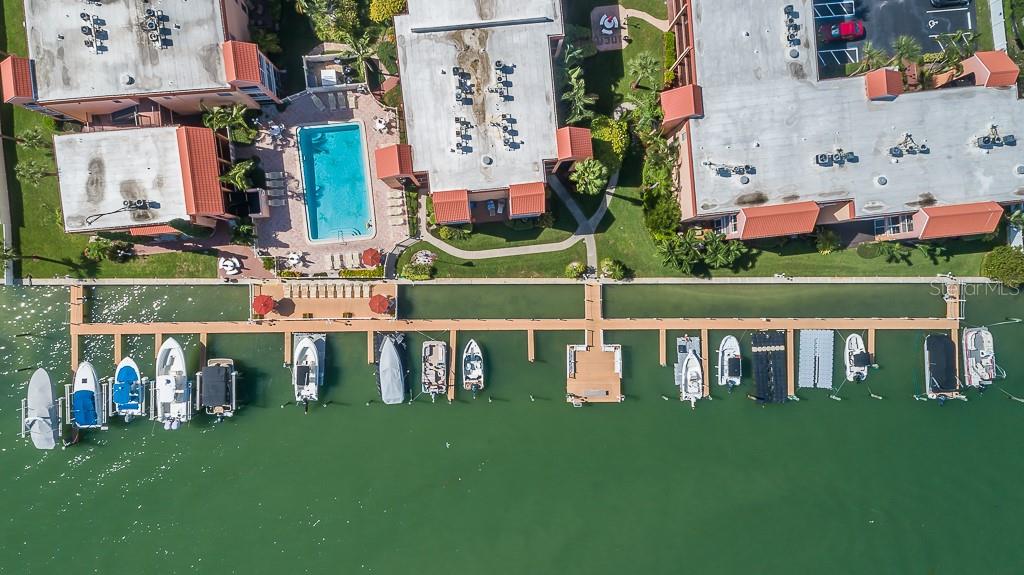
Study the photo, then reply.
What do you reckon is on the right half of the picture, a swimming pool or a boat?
boat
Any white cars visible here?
No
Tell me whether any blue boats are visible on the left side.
Yes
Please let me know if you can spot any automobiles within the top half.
Yes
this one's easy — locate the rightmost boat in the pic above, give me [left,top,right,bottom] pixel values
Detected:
[959,328,1002,389]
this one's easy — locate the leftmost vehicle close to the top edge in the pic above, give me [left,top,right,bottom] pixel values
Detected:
[817,20,866,45]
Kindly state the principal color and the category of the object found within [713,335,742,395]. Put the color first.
white boat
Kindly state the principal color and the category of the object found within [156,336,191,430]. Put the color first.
white boat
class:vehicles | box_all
[924,0,971,10]
[817,20,866,45]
